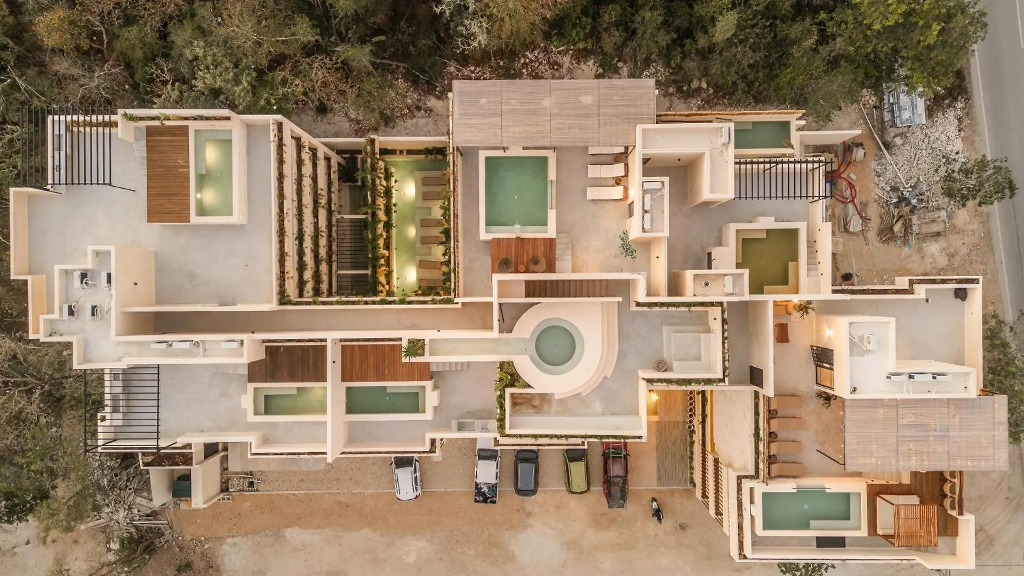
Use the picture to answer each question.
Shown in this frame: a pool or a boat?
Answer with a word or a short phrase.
pool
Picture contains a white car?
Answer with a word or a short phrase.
Yes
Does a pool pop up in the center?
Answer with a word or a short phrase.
Yes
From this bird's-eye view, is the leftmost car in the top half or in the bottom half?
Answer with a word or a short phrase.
bottom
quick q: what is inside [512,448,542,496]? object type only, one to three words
car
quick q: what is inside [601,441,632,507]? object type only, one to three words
vehicle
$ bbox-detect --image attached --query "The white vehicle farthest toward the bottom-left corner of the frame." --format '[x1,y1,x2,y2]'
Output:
[390,456,424,502]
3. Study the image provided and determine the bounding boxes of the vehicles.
[649,496,666,523]
[512,448,542,496]
[390,456,424,502]
[562,441,591,493]
[601,441,632,507]
[472,437,502,504]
